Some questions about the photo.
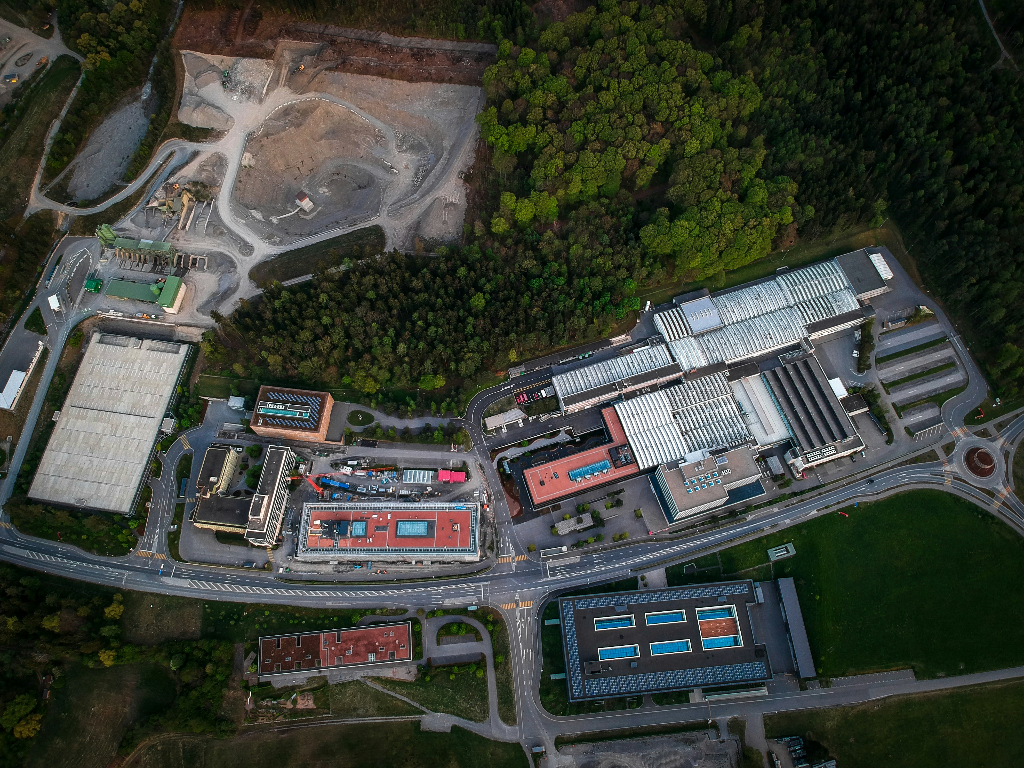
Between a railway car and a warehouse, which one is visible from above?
warehouse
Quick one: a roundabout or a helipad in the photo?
roundabout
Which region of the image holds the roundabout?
right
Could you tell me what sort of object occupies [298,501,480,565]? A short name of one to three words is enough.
building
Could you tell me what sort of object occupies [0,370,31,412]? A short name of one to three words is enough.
shed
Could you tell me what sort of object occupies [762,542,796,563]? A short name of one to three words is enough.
house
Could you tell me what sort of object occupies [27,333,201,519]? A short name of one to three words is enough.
warehouse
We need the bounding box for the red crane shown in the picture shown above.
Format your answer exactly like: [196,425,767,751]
[286,466,394,501]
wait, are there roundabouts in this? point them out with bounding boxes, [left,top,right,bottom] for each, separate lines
[952,436,1007,490]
